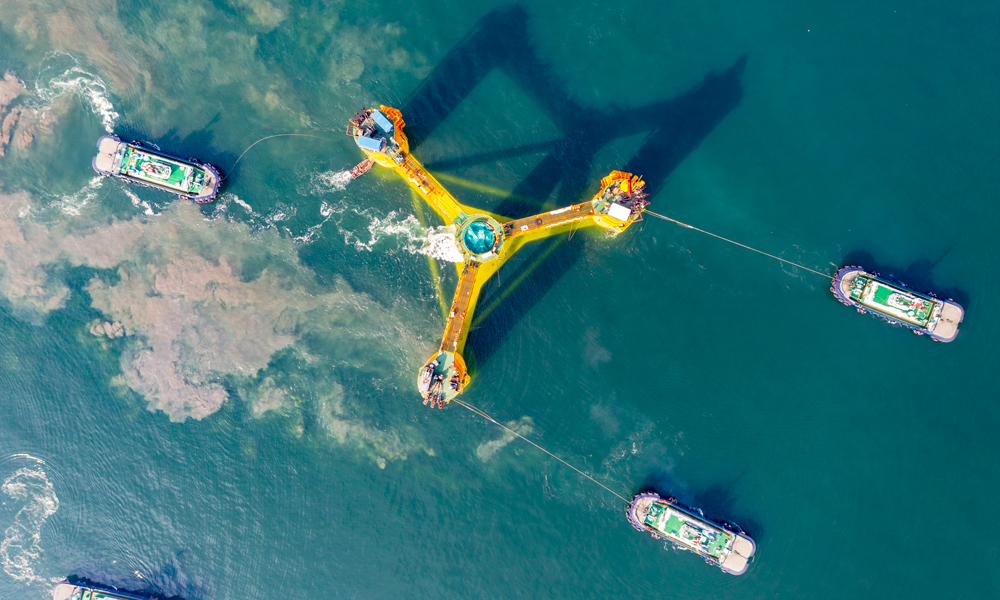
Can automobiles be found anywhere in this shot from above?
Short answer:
No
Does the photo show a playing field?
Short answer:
No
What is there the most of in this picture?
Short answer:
water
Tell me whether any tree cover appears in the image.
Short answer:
No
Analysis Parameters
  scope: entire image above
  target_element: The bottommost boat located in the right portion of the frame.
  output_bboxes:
[625,496,754,577]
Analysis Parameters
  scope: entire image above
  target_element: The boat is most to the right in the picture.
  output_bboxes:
[827,268,962,341]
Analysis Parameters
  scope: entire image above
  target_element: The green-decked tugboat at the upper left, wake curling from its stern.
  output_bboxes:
[96,136,224,201]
